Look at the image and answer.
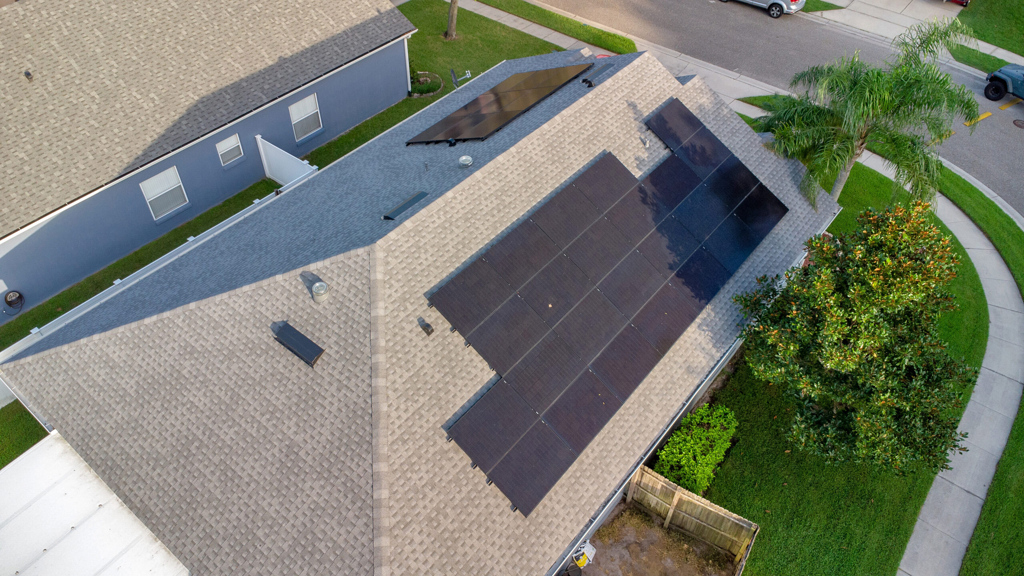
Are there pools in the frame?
No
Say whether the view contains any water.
No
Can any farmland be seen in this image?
No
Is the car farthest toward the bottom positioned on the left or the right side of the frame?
right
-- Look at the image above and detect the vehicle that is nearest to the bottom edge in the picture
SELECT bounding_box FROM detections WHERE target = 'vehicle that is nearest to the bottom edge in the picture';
[980,62,1024,105]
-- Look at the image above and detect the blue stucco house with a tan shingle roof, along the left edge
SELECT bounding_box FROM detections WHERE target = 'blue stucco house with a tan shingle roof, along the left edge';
[0,0,424,323]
